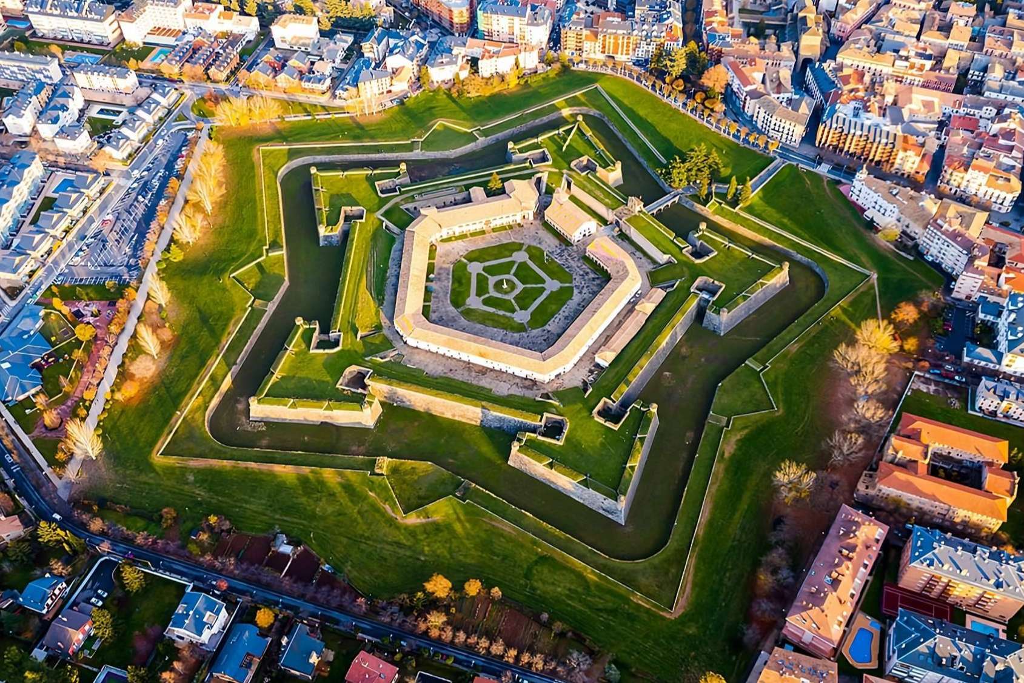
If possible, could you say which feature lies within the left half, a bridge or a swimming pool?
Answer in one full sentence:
You can see a swimming pool within the left half.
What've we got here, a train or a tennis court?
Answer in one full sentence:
It is a tennis court that can be seen here.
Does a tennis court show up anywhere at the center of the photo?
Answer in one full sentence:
No, the scene shows no tennis court at the center of the photo.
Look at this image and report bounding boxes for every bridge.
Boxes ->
[644,191,681,219]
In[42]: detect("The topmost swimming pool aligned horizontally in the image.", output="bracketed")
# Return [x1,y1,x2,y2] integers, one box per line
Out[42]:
[62,52,104,64]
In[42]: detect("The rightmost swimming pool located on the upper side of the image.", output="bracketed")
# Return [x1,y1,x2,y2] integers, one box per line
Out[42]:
[142,46,170,68]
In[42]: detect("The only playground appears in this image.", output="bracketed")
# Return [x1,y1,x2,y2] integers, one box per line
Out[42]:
[31,298,117,439]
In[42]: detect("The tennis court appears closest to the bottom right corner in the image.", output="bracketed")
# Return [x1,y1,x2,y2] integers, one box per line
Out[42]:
[879,581,953,620]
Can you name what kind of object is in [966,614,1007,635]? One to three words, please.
swimming pool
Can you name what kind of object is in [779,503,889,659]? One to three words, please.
building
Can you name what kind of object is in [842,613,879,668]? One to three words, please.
swimming pool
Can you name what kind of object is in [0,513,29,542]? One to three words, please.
house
